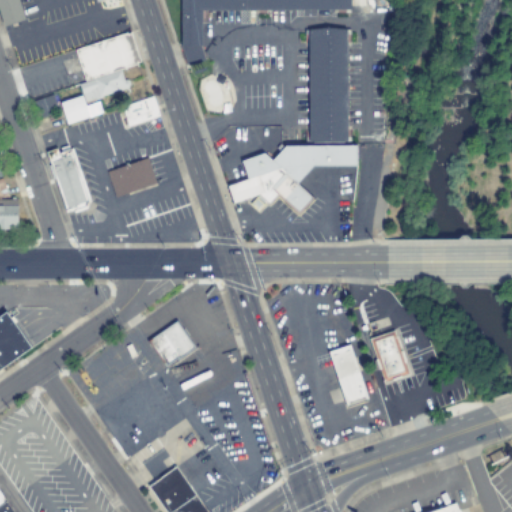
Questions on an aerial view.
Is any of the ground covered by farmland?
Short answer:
No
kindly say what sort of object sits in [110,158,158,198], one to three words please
building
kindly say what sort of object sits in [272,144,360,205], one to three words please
building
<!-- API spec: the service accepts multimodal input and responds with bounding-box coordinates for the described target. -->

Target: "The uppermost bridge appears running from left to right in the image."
[389,234,512,289]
